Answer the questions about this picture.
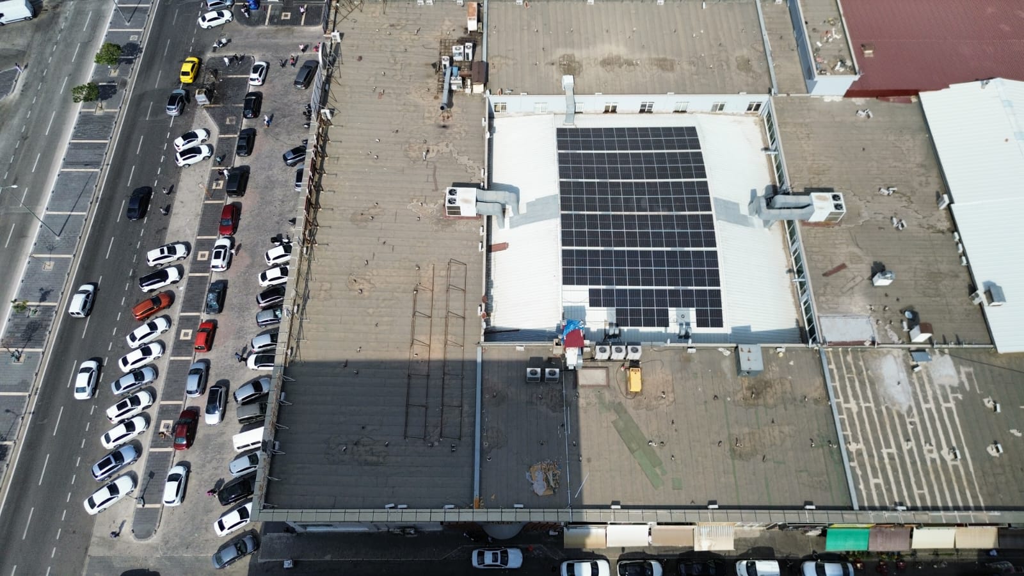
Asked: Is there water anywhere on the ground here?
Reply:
No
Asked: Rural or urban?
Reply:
urban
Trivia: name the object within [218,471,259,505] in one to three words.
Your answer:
car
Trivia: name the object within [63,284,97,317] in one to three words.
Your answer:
van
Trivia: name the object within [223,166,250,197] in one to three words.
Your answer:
car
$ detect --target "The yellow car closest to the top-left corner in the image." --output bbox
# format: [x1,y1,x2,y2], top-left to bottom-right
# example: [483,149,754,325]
[177,57,200,83]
